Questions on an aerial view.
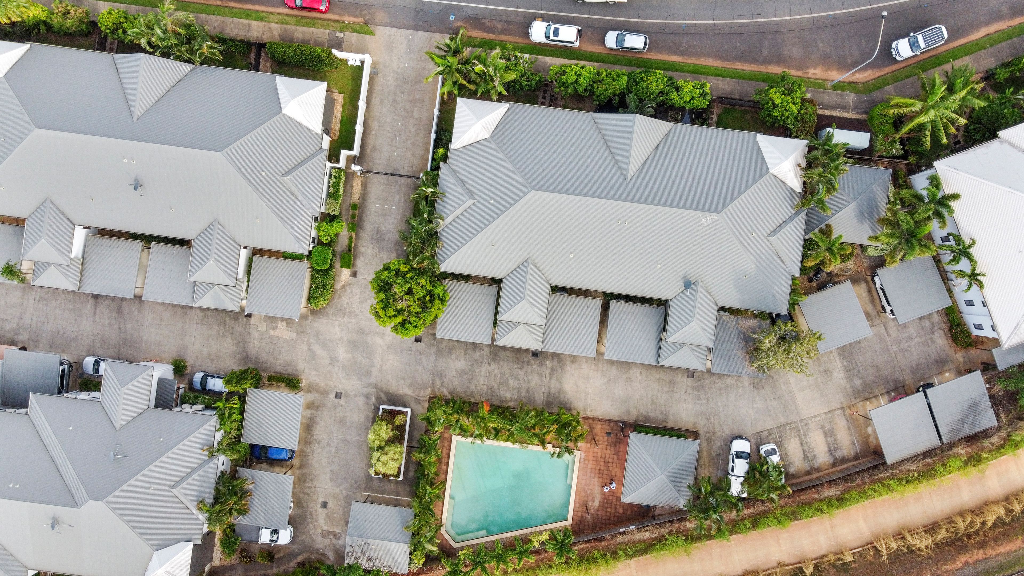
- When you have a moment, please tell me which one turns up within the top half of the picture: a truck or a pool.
truck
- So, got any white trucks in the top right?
Yes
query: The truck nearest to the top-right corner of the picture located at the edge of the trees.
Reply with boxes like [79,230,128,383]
[887,22,950,63]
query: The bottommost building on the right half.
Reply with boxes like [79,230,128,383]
[620,431,701,511]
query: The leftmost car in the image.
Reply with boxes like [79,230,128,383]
[83,354,134,378]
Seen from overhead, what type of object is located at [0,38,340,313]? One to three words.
building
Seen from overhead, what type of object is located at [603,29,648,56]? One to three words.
car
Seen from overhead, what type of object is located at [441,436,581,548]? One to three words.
swimming pool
